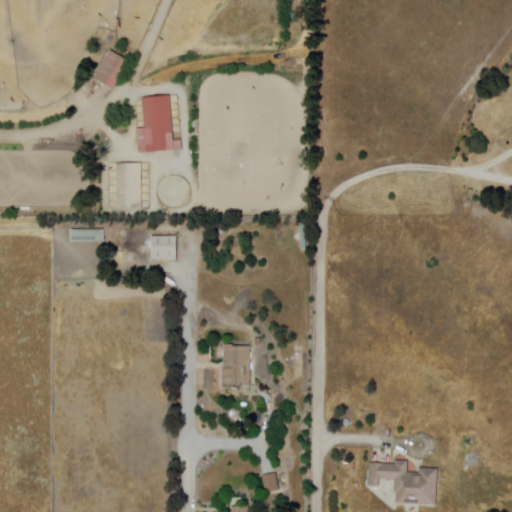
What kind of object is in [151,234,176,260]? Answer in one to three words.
building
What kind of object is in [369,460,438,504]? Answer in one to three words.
house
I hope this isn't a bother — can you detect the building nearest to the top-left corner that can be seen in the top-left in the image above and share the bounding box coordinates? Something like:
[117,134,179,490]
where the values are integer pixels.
[93,49,124,88]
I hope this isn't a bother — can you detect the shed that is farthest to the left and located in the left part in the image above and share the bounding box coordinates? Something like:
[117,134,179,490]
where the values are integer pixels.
[69,228,104,242]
